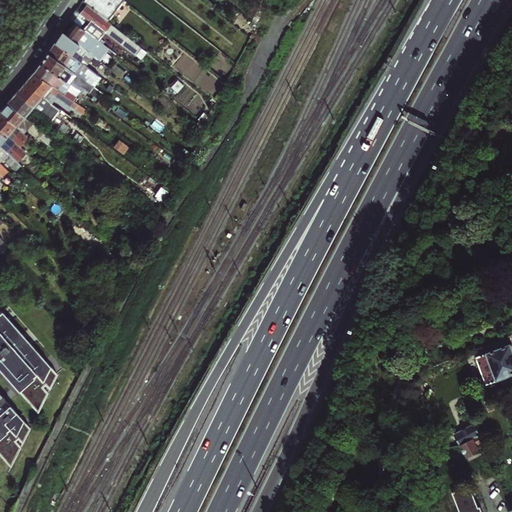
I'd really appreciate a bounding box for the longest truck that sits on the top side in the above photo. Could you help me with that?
[362,116,384,150]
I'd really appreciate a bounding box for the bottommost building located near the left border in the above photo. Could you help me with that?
[0,405,32,467]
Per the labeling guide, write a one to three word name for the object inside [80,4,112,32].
house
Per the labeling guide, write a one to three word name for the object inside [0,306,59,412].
building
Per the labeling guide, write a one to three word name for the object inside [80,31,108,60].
house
